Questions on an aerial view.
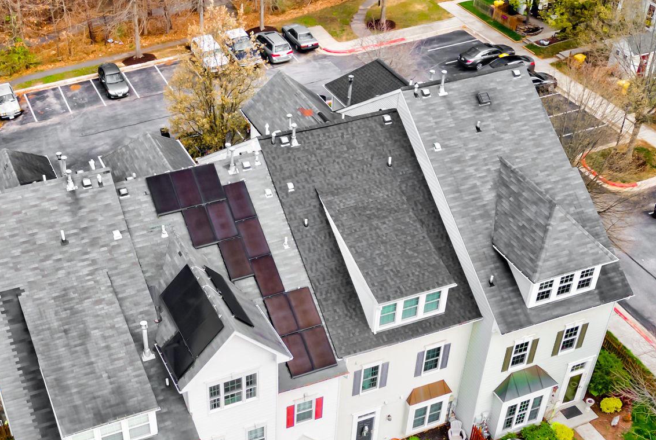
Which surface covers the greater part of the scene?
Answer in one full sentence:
What you mostly see from above here is buildings.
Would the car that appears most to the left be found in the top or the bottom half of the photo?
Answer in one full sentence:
The car that appears most to the left is in the top half of the image.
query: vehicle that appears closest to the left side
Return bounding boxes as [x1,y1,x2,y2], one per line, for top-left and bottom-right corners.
[0,85,27,120]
